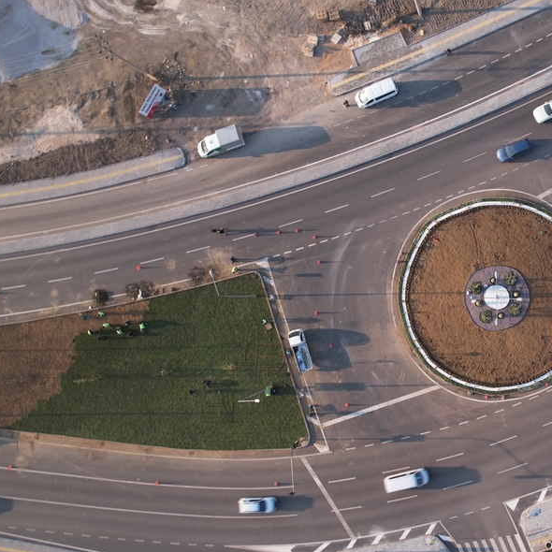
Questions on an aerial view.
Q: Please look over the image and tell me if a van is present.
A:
Yes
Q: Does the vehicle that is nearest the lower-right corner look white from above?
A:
Yes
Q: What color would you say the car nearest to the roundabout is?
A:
blue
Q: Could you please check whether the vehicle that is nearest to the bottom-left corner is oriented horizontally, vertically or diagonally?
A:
horizontally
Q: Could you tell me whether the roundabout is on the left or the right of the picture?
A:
right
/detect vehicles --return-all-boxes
[238,495,277,515]
[532,101,552,124]
[196,120,244,156]
[382,465,428,493]
[355,77,401,108]
[285,329,312,375]
[495,137,532,162]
